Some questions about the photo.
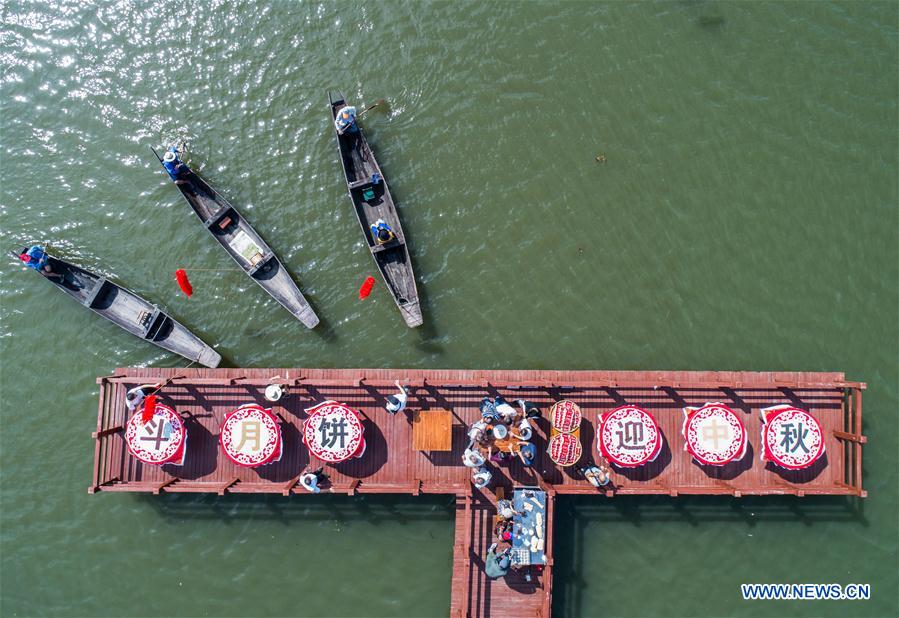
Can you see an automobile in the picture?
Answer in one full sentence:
No, I can't see a single automobile in this photo.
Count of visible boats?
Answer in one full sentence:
My tally gives 3 boats in this view.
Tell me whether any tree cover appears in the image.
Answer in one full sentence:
No, no tree cover is visible.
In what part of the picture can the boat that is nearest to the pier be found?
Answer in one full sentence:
The boat that is nearest to the pier sits in the left section of the image.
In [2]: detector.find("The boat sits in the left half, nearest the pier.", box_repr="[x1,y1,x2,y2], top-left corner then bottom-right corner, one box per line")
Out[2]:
[5,241,222,368]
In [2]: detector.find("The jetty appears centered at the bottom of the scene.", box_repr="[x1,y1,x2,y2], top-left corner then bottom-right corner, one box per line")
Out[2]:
[88,368,867,618]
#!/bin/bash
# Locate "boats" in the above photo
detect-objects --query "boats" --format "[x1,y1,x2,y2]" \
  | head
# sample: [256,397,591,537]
[325,86,424,328]
[5,241,222,368]
[146,138,321,329]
